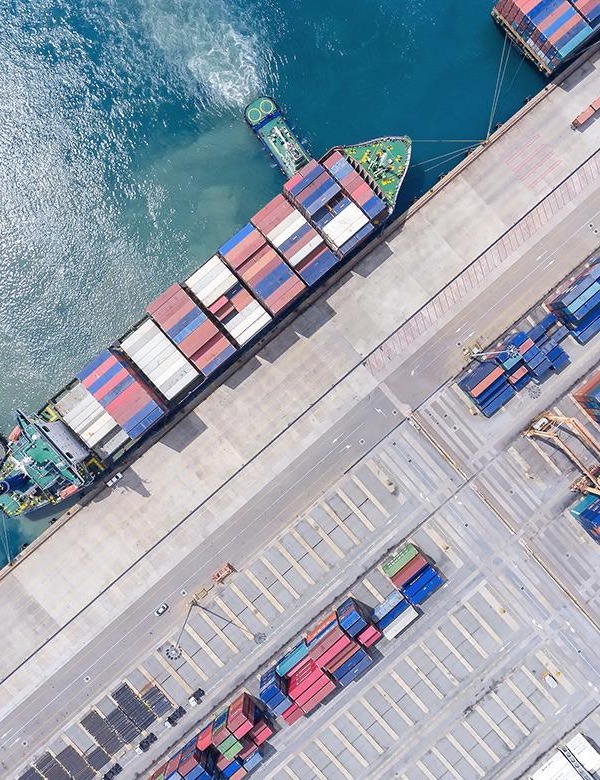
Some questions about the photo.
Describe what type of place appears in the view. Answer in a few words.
port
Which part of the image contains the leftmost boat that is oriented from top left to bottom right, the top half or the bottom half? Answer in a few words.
top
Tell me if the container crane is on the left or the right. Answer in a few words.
right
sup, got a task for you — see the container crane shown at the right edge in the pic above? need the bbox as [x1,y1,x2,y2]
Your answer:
[522,411,600,498]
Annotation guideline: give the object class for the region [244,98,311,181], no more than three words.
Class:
boat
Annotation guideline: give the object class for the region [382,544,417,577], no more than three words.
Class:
shipping container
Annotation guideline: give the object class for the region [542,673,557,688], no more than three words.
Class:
vehicle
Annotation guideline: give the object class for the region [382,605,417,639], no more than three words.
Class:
shipping container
